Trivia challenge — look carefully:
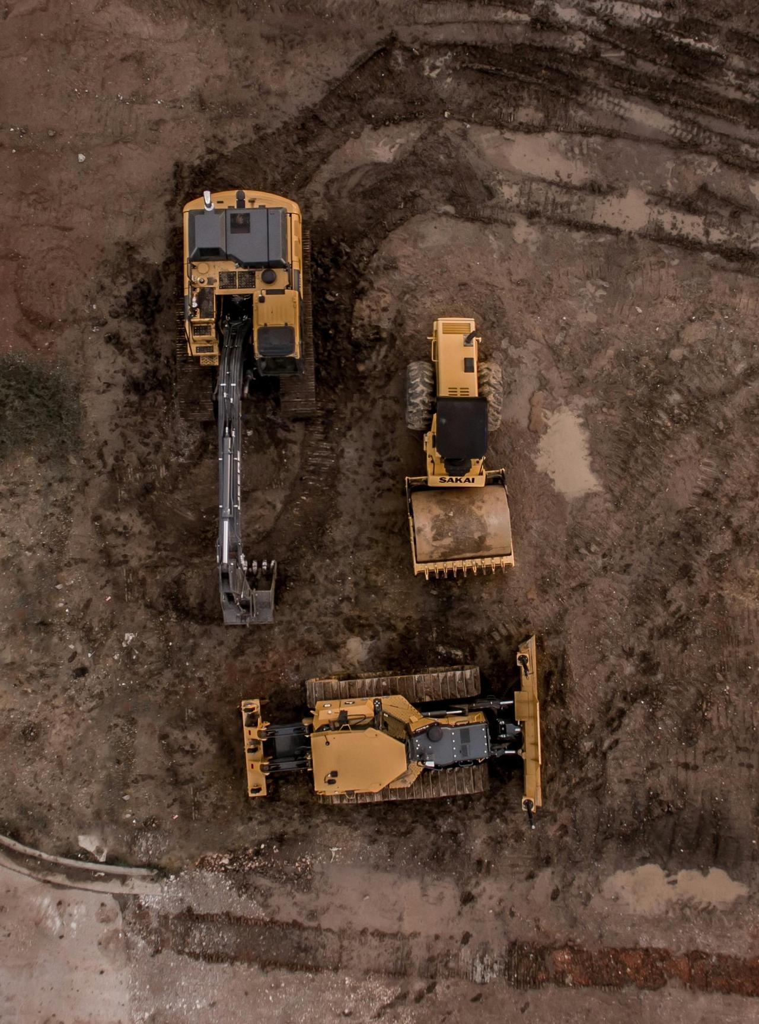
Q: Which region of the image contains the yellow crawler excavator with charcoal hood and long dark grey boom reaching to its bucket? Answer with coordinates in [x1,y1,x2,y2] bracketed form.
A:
[177,190,318,629]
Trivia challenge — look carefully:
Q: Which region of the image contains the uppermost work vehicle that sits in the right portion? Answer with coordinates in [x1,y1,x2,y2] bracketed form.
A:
[405,318,516,582]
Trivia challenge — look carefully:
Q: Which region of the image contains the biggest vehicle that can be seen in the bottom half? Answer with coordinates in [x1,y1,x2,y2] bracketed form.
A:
[242,629,542,829]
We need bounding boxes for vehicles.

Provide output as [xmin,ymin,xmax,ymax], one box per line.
[405,318,516,582]
[177,190,318,629]
[242,629,542,829]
